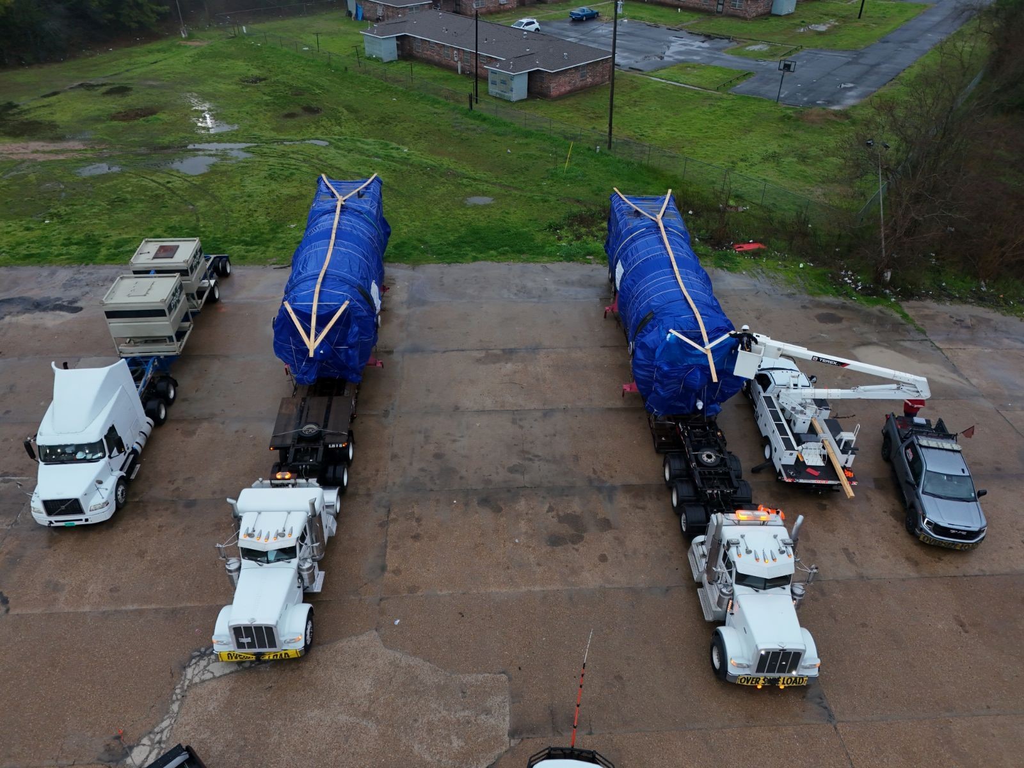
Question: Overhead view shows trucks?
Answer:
Yes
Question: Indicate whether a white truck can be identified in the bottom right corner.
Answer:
Yes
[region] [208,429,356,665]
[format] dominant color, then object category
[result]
white truck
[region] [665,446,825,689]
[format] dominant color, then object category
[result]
white truck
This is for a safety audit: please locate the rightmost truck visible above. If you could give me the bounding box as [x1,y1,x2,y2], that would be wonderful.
[881,413,993,557]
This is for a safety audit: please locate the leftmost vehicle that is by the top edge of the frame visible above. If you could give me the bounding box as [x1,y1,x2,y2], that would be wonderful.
[510,17,541,30]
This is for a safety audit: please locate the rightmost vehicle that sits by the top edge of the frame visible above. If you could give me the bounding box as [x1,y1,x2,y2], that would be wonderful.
[568,8,599,20]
